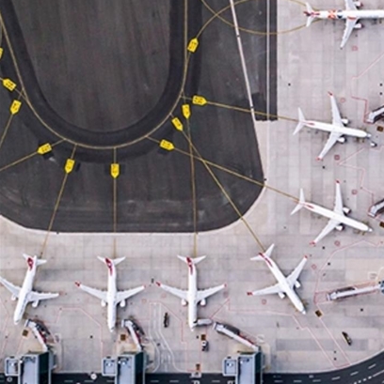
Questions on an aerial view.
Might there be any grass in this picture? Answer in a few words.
No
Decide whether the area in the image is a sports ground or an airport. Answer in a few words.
airport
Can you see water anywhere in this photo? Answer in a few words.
No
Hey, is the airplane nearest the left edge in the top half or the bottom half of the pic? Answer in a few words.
bottom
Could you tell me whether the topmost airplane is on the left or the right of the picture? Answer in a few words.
right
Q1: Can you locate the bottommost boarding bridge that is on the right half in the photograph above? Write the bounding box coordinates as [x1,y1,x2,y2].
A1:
[212,322,265,353]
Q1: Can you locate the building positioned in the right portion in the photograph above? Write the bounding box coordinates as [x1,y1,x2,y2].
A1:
[223,352,271,384]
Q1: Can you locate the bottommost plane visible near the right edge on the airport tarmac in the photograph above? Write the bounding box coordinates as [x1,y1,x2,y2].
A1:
[294,180,371,243]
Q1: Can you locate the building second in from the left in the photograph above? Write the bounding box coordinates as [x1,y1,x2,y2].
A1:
[101,352,153,384]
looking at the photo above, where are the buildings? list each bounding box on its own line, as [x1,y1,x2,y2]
[101,352,153,384]
[4,351,58,384]
[223,352,271,384]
